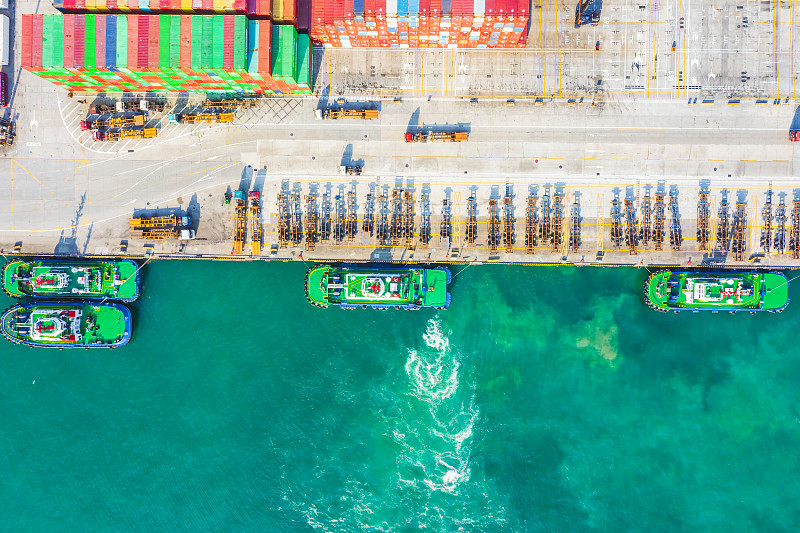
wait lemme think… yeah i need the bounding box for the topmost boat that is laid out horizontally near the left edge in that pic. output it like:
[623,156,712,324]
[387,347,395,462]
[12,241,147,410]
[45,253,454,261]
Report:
[2,259,144,302]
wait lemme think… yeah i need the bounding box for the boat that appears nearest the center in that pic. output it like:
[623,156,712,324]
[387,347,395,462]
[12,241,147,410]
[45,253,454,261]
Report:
[306,263,452,309]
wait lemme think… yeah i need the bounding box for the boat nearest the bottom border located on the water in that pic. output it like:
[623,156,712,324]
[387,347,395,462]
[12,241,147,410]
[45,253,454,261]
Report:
[0,301,134,350]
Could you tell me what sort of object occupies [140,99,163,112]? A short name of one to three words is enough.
vehicle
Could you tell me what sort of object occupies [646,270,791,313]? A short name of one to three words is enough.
boat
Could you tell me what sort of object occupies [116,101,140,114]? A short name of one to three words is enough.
vehicle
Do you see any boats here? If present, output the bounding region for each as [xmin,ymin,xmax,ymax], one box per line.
[306,263,452,309]
[2,259,144,302]
[0,301,134,350]
[646,270,791,313]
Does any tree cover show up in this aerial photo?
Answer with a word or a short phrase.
No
